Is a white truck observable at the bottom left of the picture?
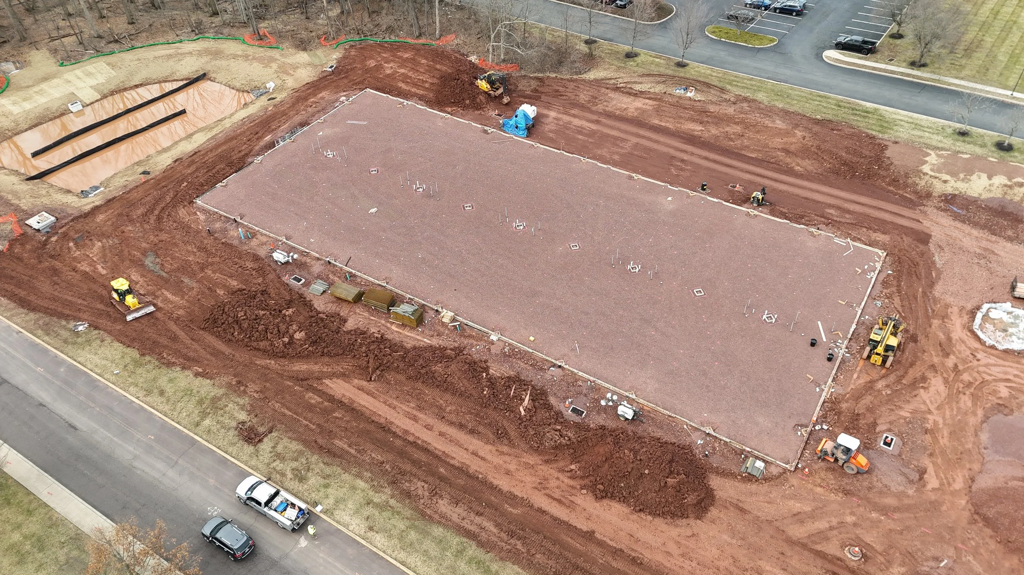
Yes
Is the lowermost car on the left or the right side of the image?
left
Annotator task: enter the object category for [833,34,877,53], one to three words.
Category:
vehicle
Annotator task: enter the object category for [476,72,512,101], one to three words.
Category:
work vehicle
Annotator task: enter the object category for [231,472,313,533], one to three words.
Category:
truck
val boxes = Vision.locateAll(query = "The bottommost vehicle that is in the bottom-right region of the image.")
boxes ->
[812,429,875,477]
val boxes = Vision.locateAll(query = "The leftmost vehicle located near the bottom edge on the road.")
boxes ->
[198,513,255,561]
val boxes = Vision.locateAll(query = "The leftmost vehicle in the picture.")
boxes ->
[117,277,160,320]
